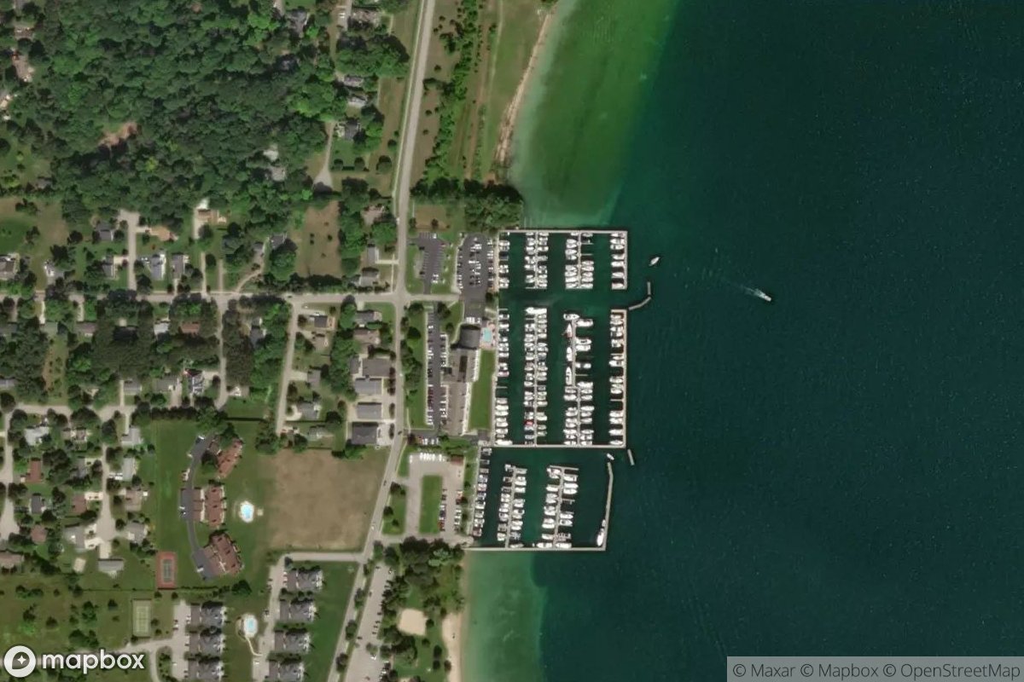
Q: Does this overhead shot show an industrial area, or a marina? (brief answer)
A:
marina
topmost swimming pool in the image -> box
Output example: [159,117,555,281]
[479,321,496,350]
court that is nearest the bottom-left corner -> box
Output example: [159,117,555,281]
[133,600,150,636]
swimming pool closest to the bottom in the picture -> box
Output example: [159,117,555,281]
[243,614,257,636]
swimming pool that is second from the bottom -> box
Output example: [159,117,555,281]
[239,501,254,522]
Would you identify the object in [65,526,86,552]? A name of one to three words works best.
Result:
house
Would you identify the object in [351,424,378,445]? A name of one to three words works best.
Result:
building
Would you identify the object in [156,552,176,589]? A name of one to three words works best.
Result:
tennis court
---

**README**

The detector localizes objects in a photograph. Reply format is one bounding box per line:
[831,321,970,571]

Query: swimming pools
[239,501,254,522]
[479,321,496,350]
[243,614,257,636]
